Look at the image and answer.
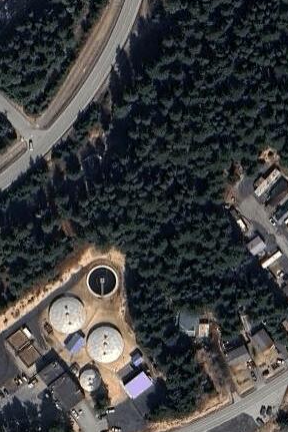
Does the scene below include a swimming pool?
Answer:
No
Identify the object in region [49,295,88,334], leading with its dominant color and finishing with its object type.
white storage tank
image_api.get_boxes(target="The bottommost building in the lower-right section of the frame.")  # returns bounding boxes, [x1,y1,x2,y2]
[226,346,252,371]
